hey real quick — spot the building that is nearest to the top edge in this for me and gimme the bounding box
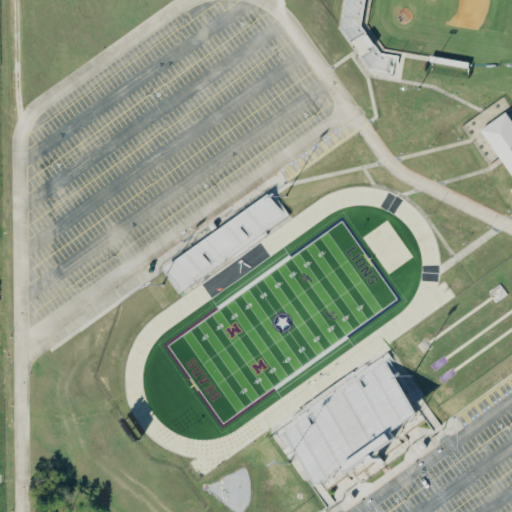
[352,34,378,58]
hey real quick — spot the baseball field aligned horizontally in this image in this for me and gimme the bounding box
[369,0,512,66]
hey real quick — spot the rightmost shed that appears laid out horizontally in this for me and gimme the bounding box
[428,56,472,78]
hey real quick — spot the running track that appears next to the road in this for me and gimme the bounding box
[126,187,455,475]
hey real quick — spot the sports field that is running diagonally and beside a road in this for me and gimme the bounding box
[144,206,422,440]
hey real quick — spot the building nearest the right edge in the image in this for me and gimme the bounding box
[482,113,512,174]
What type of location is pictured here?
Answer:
sports ground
